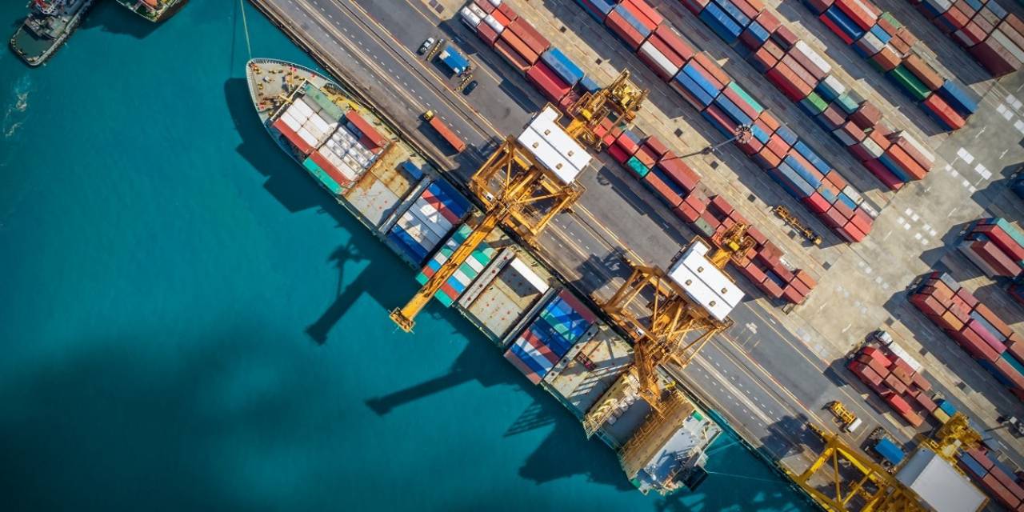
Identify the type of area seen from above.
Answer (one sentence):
It's a port.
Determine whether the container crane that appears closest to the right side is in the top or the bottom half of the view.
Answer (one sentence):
You can find the container crane that appears closest to the right side in the bottom half.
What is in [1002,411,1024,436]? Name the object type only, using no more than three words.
truck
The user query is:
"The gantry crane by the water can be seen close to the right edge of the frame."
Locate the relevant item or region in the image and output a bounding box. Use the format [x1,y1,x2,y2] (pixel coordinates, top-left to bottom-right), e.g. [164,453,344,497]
[762,405,996,512]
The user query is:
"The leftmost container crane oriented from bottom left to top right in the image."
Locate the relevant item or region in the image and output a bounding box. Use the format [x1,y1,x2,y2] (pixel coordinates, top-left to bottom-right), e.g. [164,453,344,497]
[396,55,657,331]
